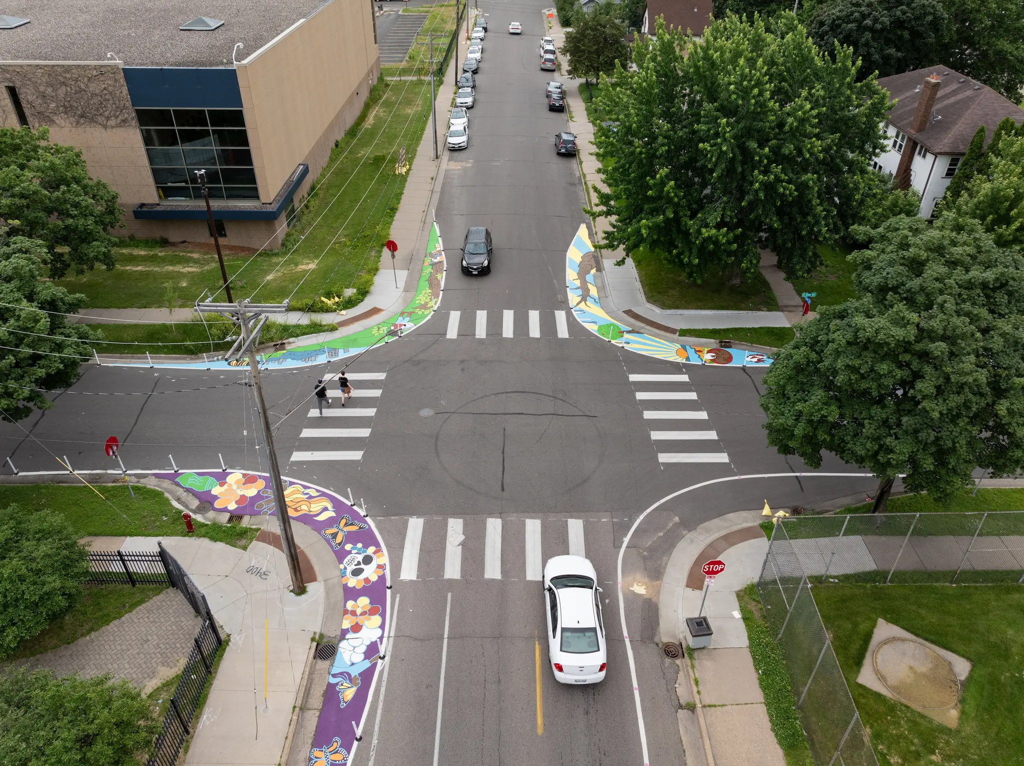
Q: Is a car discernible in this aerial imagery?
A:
Yes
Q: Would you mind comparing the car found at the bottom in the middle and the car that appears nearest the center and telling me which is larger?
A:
the car found at the bottom in the middle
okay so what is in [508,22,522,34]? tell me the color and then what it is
white vehicle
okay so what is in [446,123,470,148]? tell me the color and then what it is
white car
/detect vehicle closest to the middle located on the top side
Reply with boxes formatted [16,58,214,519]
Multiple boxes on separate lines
[460,224,496,274]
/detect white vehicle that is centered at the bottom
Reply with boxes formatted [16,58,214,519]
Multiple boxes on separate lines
[538,557,611,686]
